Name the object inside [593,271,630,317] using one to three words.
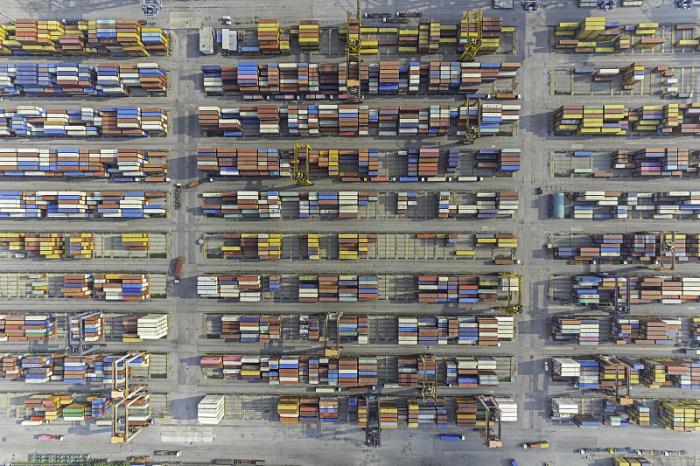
container crane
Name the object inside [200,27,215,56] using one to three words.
building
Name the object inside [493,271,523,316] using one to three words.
container crane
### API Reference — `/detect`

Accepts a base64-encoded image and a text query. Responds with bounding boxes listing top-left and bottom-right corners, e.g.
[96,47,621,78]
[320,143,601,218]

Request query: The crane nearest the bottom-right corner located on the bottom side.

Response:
[594,354,632,407]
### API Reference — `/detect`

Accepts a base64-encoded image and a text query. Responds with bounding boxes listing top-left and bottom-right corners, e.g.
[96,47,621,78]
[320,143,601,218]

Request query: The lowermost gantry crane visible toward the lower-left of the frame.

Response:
[111,392,146,446]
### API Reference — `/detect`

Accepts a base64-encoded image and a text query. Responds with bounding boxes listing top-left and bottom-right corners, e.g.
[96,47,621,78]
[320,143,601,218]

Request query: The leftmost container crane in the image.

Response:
[68,309,105,357]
